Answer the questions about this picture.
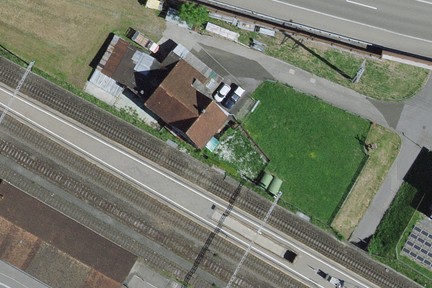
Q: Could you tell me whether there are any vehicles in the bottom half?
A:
No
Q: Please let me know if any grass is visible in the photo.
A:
Yes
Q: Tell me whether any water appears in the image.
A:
No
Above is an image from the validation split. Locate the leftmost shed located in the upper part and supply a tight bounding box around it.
[90,34,161,96]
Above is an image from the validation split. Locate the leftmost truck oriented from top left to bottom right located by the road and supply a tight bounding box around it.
[132,29,161,52]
